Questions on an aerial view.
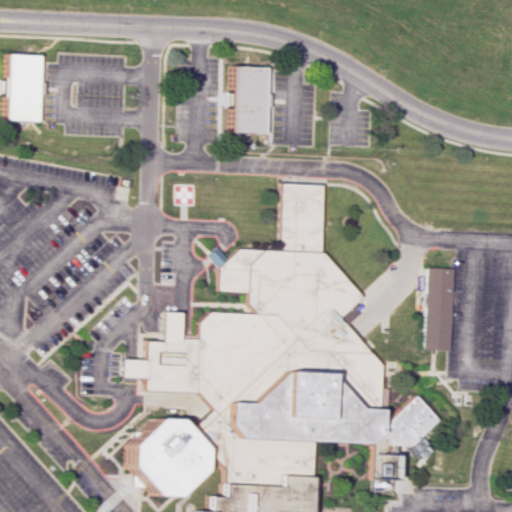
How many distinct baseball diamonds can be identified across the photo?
0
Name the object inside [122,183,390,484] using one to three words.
building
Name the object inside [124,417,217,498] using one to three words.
building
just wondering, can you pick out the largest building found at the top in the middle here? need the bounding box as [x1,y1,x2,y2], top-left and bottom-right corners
[219,66,273,134]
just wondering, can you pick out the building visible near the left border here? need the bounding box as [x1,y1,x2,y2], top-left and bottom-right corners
[0,54,47,123]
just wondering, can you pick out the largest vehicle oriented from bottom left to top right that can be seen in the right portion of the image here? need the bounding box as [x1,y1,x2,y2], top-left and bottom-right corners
[346,304,362,320]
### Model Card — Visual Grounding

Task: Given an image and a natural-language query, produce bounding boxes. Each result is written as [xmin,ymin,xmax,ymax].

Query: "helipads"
[172,184,196,207]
